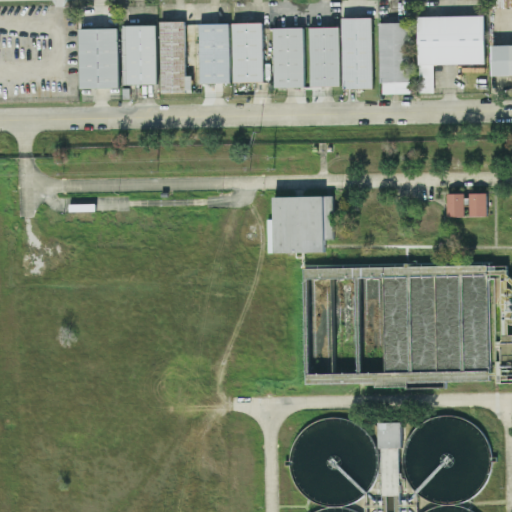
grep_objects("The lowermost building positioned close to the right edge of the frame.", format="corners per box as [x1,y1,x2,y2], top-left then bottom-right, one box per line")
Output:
[446,194,488,218]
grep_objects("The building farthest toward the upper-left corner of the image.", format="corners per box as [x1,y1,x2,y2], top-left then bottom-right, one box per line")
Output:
[78,28,120,90]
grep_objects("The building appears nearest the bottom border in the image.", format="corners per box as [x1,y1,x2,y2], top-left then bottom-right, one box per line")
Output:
[377,422,402,448]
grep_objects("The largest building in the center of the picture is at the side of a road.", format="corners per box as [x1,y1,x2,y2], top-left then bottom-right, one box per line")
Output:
[266,196,336,254]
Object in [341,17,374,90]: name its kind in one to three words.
building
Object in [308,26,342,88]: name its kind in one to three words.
building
